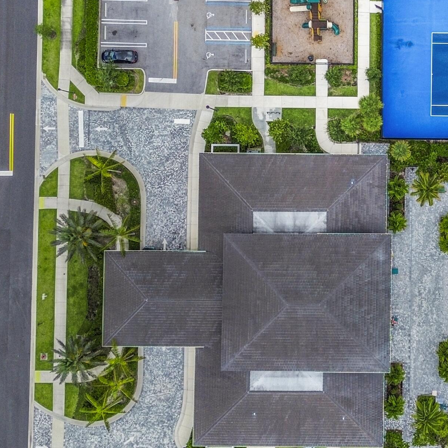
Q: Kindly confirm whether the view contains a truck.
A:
No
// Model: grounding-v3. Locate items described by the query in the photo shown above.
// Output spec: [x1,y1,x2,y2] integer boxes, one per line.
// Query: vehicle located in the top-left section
[100,47,137,64]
